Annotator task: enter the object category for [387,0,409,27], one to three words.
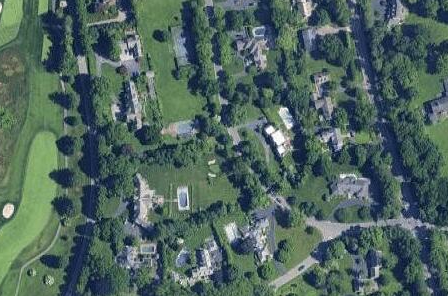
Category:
house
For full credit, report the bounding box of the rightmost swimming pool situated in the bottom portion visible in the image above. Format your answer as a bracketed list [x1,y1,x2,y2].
[224,223,239,243]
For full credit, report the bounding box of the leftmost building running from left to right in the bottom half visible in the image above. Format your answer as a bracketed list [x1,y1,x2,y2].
[113,248,153,268]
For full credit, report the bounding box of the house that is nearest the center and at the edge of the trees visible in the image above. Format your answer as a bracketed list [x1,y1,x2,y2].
[261,123,292,155]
